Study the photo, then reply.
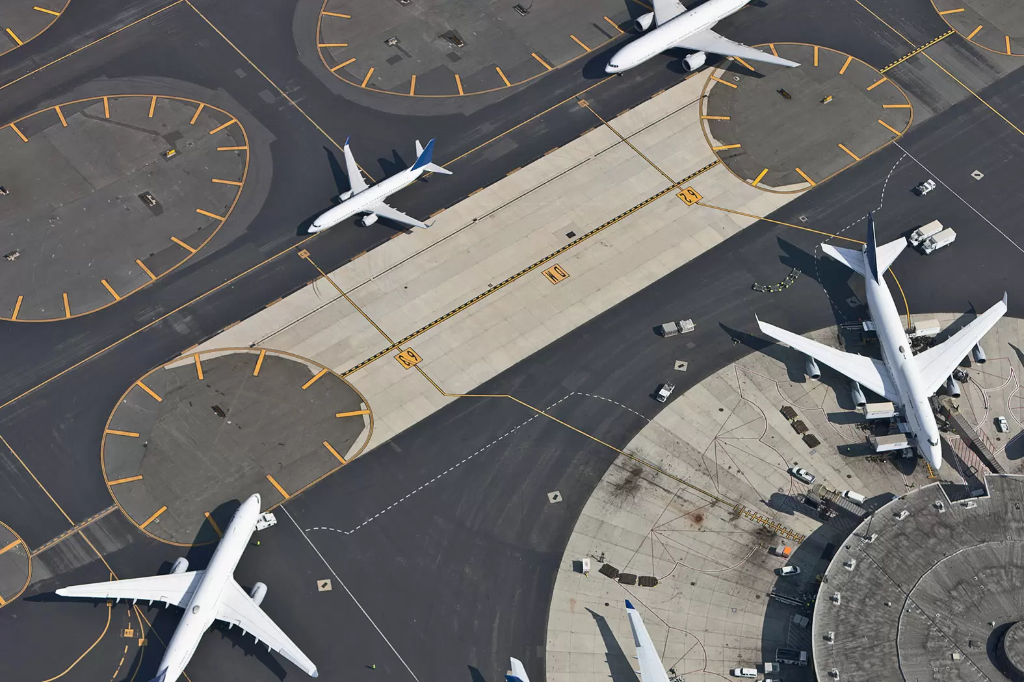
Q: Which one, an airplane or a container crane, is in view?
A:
airplane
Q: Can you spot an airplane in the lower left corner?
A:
Yes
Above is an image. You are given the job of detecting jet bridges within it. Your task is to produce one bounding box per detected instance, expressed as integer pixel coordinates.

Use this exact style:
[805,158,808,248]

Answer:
[929,395,1006,472]
[805,482,869,521]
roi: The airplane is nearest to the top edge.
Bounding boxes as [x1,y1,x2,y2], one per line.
[606,0,802,74]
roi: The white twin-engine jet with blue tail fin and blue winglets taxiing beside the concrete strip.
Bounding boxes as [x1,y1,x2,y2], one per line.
[308,136,453,232]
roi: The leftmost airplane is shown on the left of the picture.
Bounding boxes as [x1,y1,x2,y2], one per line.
[54,494,316,682]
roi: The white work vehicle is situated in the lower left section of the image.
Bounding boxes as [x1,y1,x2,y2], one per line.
[253,510,280,532]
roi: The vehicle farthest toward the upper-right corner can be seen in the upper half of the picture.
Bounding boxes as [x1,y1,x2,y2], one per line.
[916,175,938,192]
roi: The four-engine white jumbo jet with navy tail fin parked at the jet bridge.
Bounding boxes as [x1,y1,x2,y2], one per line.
[759,209,1010,470]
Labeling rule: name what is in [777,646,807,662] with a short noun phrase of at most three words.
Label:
vehicle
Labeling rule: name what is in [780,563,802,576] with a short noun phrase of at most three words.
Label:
vehicle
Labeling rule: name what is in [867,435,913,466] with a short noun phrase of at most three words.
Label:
truck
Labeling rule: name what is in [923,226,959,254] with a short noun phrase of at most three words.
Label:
truck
